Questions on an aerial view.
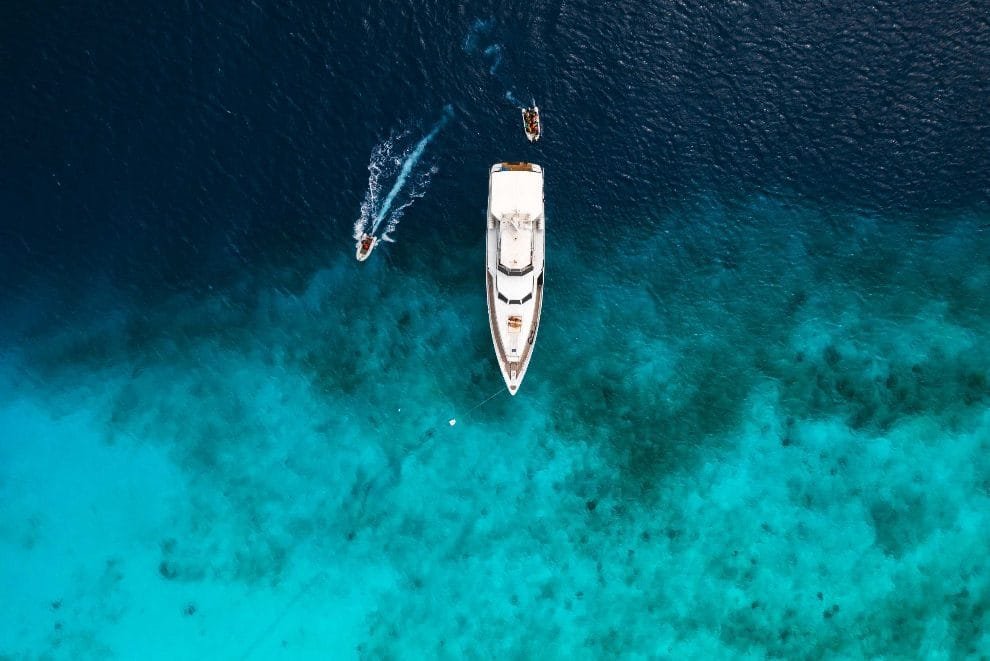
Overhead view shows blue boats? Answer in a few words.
No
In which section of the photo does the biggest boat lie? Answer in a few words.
center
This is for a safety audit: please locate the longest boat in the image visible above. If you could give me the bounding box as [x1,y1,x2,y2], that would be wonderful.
[486,163,546,395]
